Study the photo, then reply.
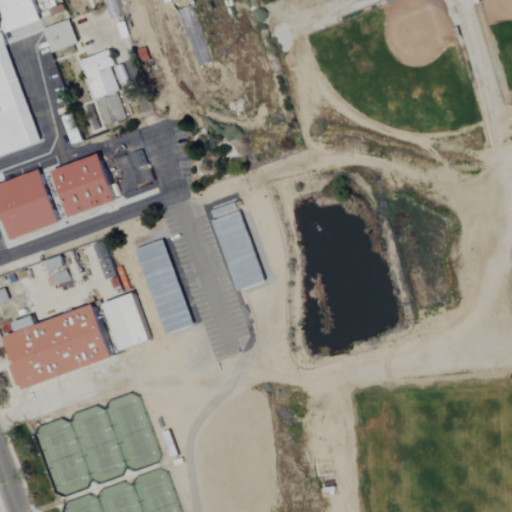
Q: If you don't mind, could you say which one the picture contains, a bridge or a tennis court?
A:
tennis court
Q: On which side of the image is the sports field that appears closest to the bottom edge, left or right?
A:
right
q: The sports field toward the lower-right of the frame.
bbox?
[357,386,512,512]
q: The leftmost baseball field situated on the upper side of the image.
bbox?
[309,0,481,132]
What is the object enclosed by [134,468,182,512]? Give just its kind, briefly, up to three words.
tennis court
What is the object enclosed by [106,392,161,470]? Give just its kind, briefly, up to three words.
tennis court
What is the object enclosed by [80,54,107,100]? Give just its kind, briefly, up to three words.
house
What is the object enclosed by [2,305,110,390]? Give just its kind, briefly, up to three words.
building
